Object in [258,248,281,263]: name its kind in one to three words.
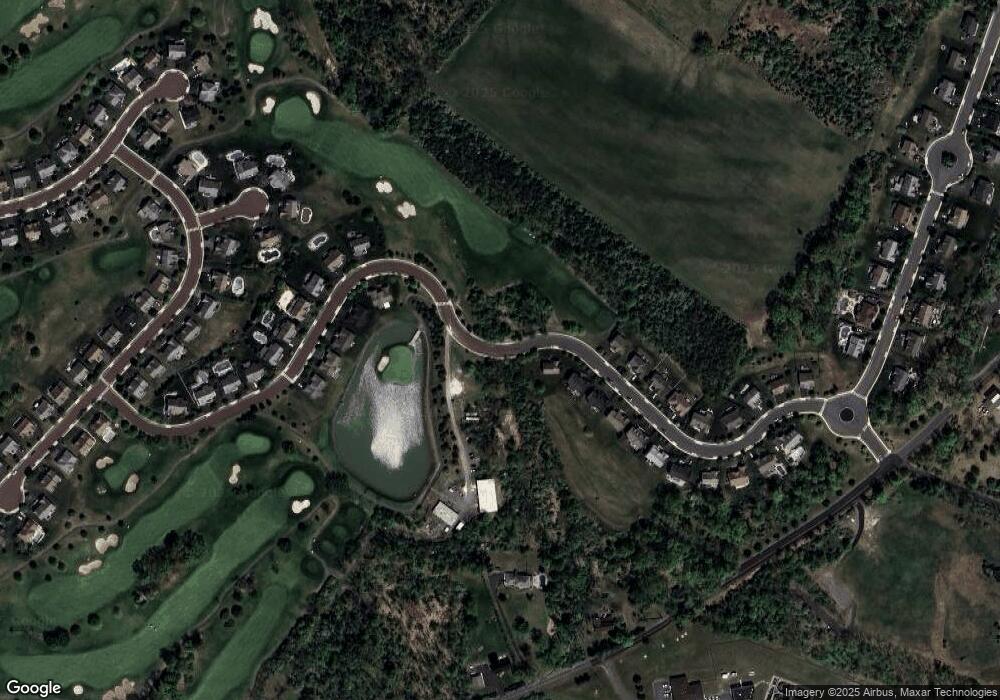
swimming pool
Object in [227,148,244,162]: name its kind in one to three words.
swimming pool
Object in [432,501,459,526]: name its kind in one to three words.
barn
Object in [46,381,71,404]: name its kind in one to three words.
house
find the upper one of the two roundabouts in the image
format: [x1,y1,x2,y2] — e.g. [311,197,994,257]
[926,136,973,183]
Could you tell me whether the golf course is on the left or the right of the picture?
left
